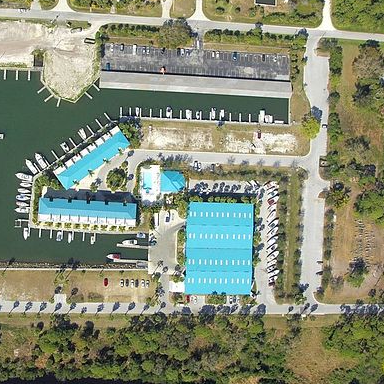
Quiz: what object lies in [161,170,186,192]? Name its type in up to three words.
building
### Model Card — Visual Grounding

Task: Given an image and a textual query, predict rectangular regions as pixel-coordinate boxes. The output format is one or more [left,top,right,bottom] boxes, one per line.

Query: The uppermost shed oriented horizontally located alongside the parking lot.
[100,71,292,98]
